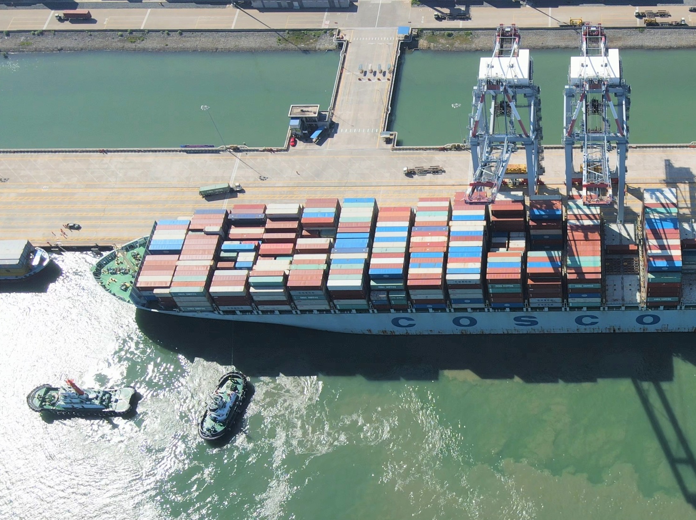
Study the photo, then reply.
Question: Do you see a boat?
Yes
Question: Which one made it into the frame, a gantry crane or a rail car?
gantry crane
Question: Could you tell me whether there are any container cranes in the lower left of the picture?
No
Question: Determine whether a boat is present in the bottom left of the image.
Yes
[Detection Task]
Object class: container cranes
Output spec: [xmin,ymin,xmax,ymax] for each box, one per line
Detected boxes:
[464,18,555,202]
[558,17,637,221]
